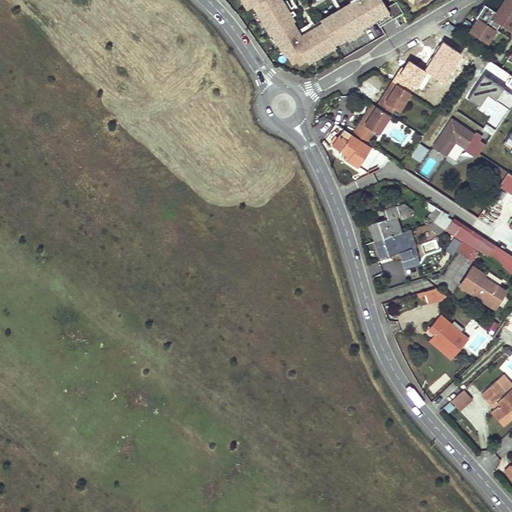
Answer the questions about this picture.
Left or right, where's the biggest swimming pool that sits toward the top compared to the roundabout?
right of it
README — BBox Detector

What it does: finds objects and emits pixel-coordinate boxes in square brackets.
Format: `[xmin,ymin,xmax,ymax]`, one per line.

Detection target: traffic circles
[238,57,327,191]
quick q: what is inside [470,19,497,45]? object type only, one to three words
house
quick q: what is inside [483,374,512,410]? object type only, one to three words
house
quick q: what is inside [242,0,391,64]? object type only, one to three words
building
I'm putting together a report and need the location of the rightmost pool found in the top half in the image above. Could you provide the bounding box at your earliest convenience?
[420,157,438,176]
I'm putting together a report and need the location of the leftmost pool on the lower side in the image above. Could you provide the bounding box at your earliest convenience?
[464,319,492,356]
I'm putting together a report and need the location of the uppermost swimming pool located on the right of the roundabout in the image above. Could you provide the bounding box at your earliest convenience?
[378,120,414,147]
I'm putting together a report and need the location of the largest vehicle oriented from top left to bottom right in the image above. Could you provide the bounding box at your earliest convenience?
[406,386,426,409]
